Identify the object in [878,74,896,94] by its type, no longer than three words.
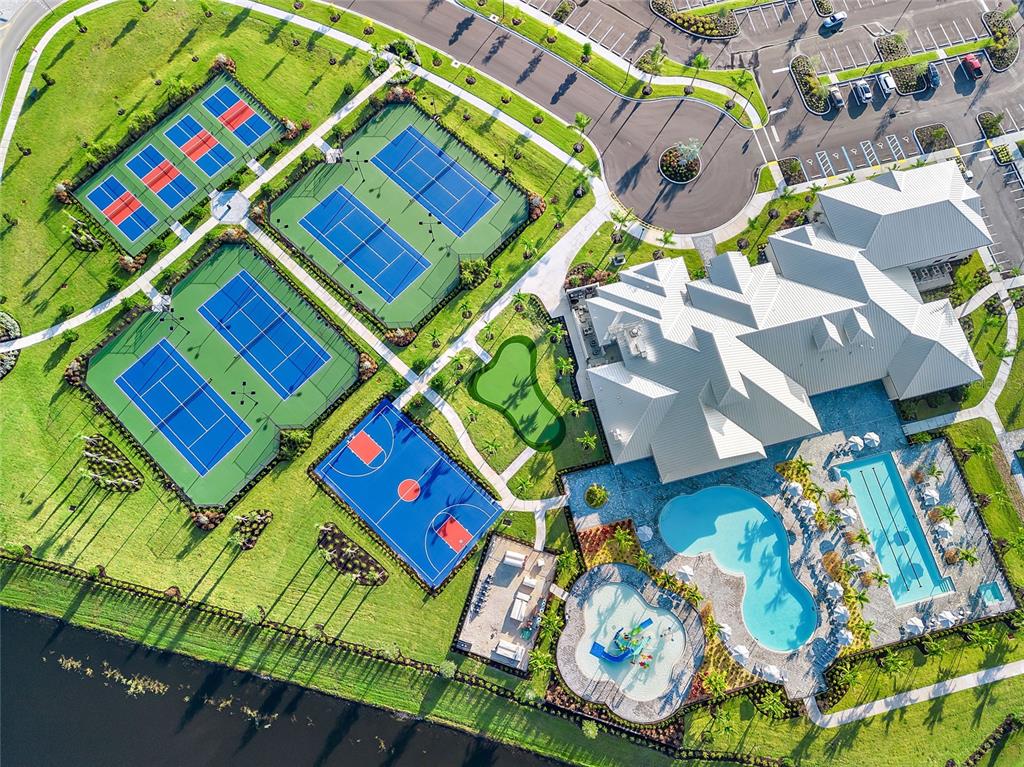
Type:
car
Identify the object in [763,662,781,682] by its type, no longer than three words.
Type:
umbrella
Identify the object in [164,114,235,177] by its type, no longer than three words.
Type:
sports court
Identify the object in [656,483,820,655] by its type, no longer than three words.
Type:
swimming pool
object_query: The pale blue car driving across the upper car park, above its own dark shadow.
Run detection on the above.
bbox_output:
[823,12,846,28]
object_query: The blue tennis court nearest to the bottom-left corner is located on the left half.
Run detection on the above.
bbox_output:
[114,338,252,477]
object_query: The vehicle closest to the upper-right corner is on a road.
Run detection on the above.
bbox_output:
[963,55,983,80]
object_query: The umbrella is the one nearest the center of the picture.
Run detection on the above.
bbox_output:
[635,524,653,542]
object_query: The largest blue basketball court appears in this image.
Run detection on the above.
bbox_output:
[314,398,504,585]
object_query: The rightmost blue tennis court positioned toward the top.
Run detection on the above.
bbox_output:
[370,124,500,238]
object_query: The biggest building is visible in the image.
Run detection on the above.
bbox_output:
[585,160,993,484]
